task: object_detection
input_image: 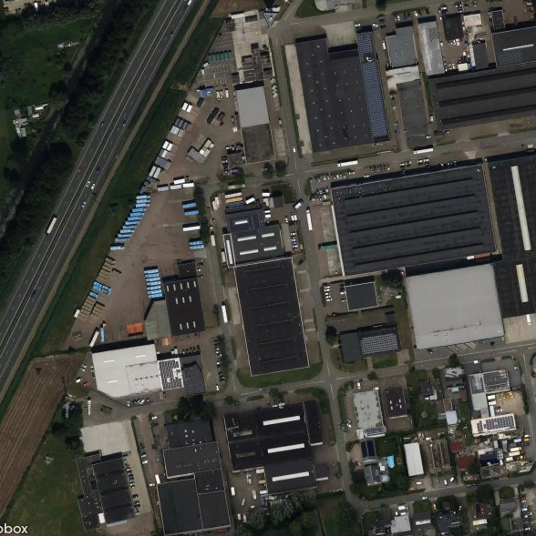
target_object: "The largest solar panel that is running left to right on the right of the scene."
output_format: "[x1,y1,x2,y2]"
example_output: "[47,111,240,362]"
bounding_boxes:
[361,332,398,355]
